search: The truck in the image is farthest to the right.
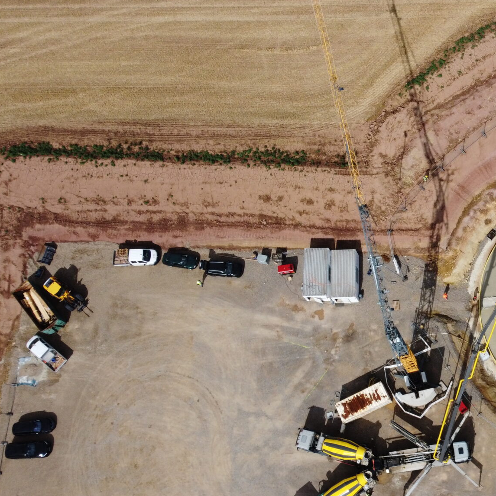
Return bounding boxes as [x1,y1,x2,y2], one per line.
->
[371,303,496,496]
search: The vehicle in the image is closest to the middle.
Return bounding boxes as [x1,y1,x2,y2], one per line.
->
[198,259,246,278]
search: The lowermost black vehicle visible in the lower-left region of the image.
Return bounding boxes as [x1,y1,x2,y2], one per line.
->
[5,439,56,459]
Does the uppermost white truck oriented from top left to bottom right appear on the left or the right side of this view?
left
